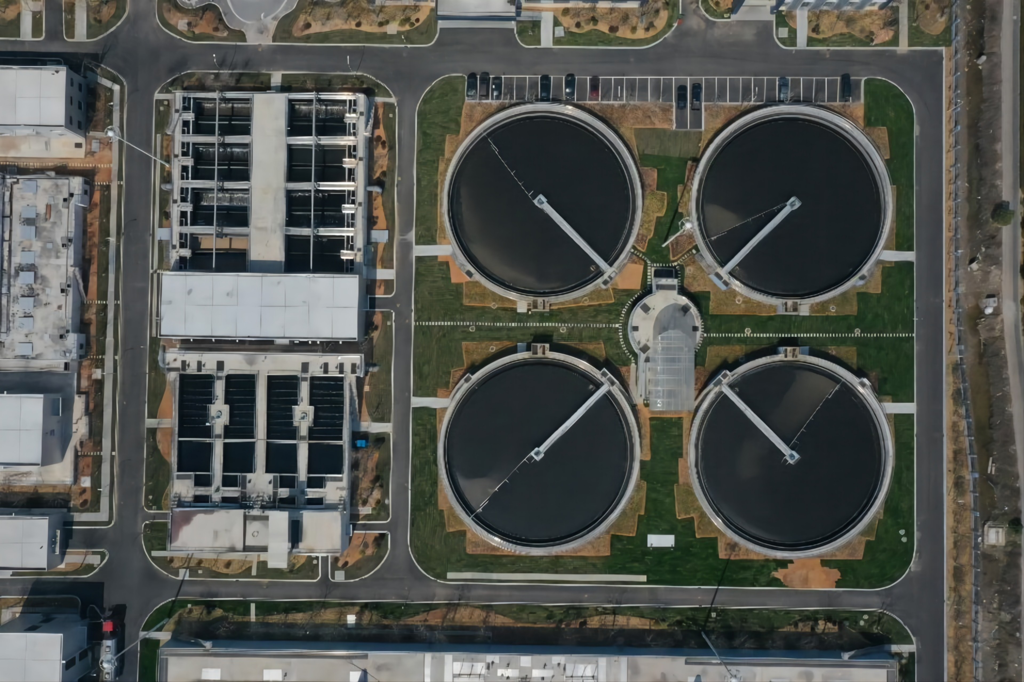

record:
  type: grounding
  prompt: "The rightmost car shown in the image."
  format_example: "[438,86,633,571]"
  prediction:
[838,74,853,100]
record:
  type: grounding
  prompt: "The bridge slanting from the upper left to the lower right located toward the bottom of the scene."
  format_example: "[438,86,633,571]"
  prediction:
[723,376,798,460]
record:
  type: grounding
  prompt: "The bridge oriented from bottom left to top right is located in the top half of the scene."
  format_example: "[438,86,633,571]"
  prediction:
[718,204,799,280]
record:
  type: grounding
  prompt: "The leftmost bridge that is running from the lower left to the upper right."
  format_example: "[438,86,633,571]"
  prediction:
[536,376,611,457]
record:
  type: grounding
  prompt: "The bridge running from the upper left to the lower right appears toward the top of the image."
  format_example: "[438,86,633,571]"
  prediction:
[538,198,614,279]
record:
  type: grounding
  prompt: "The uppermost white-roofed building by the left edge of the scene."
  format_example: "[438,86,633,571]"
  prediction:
[0,66,86,136]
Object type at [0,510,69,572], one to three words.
building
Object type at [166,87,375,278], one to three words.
storage tank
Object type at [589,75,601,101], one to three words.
vehicle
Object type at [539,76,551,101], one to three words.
vehicle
